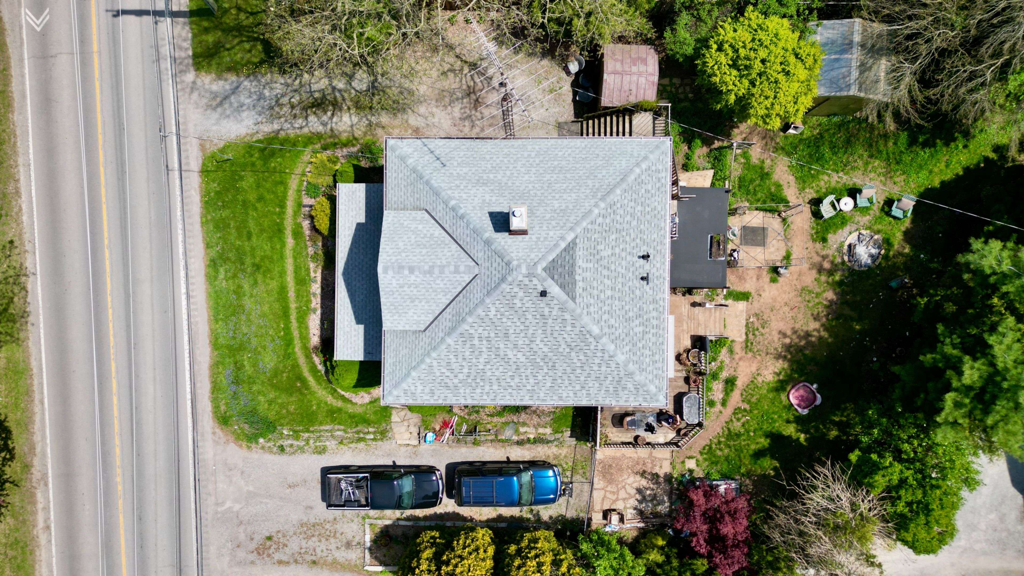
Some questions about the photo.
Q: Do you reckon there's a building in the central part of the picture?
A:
Yes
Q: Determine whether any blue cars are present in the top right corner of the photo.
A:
No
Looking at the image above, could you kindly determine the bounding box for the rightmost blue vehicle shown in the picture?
[455,462,563,513]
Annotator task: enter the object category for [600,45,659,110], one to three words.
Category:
shed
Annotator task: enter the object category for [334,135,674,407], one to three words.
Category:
house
